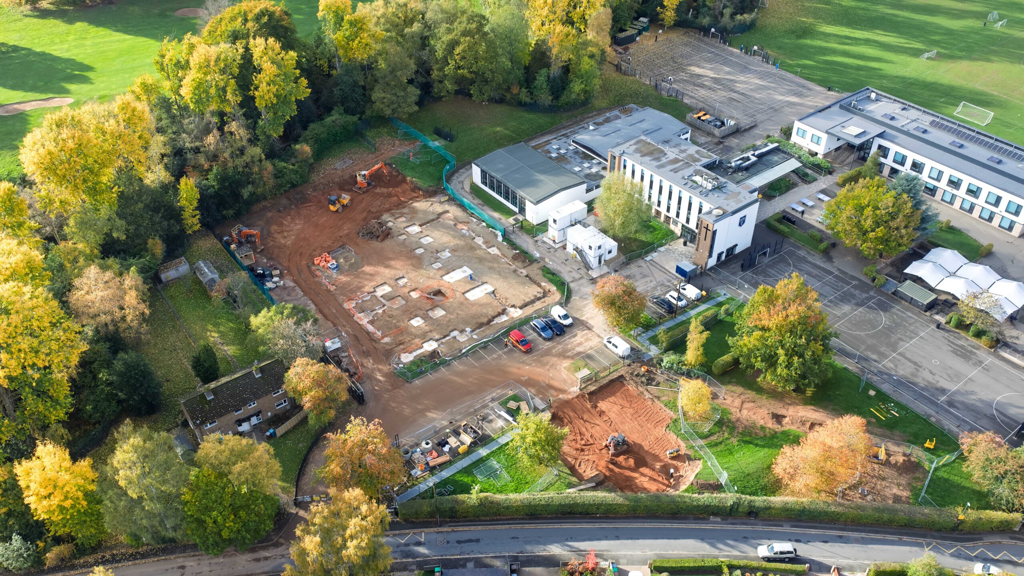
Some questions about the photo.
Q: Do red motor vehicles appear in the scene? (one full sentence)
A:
Yes, a red motor vehicle is visible in the scene.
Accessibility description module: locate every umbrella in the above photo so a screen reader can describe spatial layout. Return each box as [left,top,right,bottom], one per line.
[954,262,1002,292]
[933,275,983,306]
[923,247,970,275]
[987,278,1024,321]
[901,259,951,290]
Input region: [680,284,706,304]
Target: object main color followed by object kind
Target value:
white vehicle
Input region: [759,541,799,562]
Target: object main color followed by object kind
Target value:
white car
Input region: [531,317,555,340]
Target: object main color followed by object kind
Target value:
blue car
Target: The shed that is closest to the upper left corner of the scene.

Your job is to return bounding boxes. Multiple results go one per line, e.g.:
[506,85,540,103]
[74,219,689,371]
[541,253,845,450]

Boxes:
[155,255,192,286]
